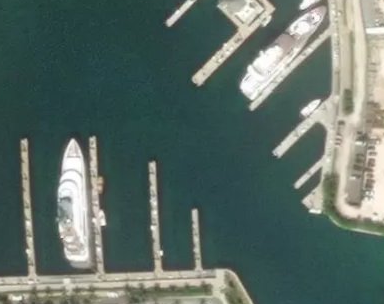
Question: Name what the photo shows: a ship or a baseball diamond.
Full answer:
Visible in the photo is a ship.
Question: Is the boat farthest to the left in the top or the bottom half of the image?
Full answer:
The boat farthest to the left is in the bottom half of the image.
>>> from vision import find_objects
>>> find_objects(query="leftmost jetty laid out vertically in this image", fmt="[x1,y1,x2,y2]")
[21,138,37,273]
